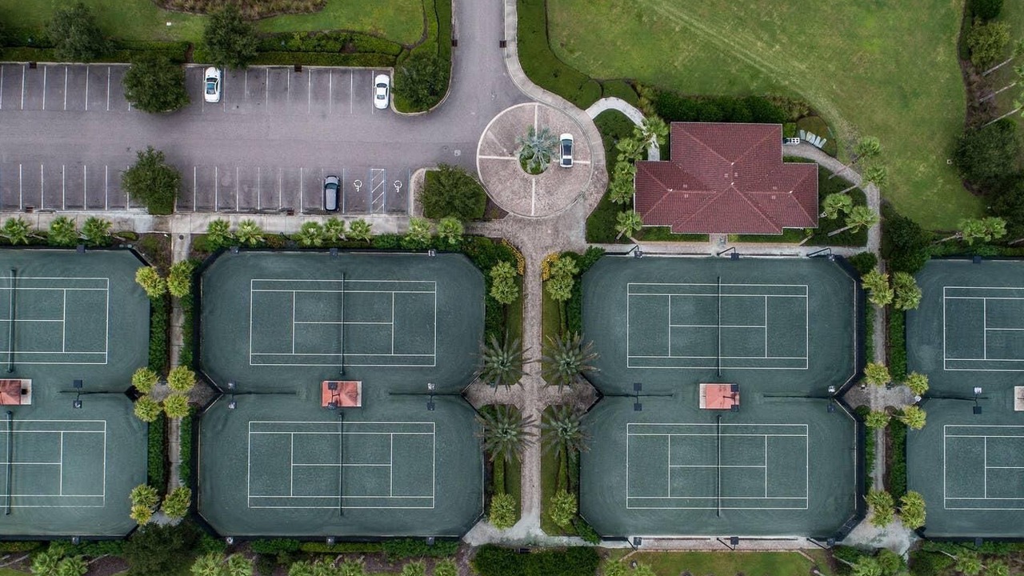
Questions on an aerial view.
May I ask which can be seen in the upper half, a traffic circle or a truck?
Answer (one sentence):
What appears in the upper half is a traffic circle.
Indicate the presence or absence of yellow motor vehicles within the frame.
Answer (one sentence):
No, there's no yellow motor vehicle here.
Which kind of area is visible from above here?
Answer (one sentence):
The area seen from above is a sports ground.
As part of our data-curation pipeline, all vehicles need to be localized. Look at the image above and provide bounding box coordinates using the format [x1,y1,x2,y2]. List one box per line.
[322,177,340,211]
[373,76,390,109]
[203,68,222,103]
[559,135,575,168]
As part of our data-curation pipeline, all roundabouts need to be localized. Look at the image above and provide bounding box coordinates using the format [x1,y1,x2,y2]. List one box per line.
[478,104,593,218]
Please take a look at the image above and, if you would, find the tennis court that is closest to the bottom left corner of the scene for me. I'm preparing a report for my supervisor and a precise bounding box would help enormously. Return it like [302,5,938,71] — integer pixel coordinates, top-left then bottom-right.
[0,392,147,536]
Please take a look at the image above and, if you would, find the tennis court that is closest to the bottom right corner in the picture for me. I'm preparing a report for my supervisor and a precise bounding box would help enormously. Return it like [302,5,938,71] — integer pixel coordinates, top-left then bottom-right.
[908,397,1024,536]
